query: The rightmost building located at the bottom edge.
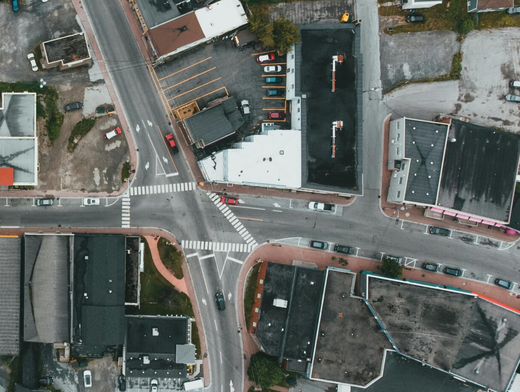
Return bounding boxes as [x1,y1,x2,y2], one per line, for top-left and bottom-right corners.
[352,270,520,392]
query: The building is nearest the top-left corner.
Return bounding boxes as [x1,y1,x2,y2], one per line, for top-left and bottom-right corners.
[39,33,91,70]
